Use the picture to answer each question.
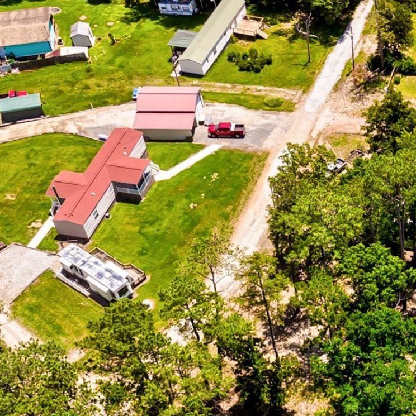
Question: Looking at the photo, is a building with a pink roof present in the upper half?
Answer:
Yes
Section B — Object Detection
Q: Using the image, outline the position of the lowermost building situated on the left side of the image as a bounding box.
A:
[46,128,163,241]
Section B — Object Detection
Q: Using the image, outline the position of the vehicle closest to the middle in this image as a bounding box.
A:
[205,123,246,139]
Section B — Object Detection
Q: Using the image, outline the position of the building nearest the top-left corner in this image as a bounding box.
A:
[0,6,56,68]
